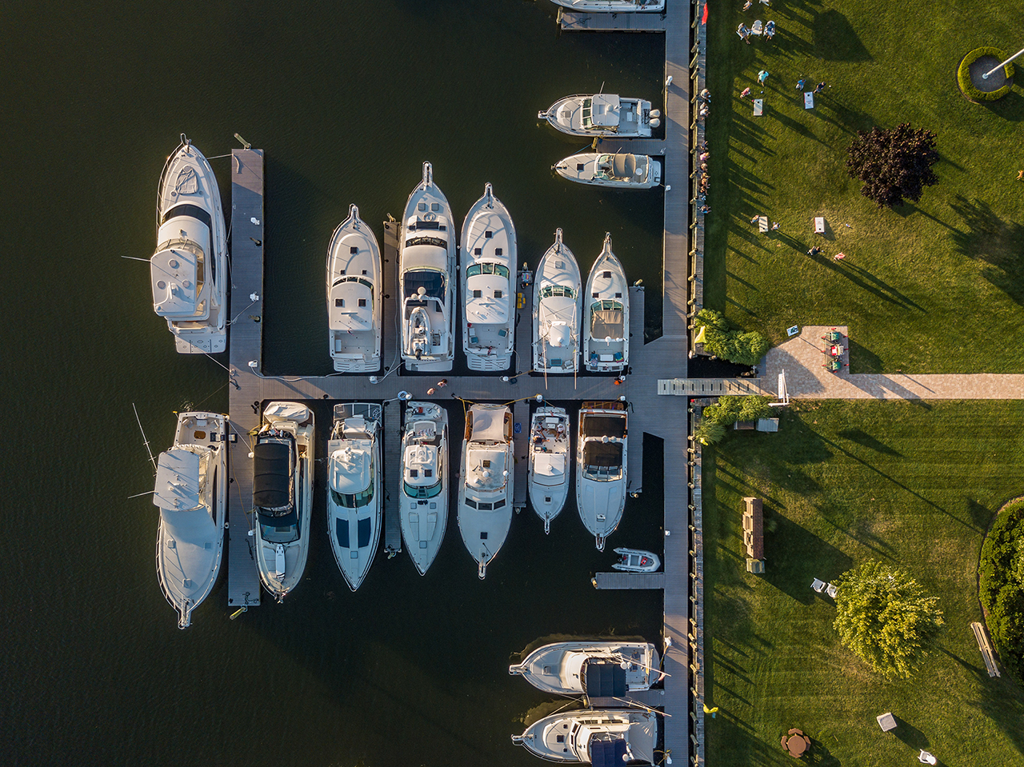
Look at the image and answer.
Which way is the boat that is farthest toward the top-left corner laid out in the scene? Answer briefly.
from top to bottom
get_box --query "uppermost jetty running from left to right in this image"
[561,13,665,32]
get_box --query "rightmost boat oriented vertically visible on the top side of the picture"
[583,232,630,373]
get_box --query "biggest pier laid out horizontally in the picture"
[262,376,629,399]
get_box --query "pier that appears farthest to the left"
[229,149,265,606]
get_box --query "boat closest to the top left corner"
[124,134,232,353]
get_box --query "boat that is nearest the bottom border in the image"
[511,706,656,767]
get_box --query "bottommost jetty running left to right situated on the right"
[590,688,665,707]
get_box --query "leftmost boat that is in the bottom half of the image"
[124,403,239,629]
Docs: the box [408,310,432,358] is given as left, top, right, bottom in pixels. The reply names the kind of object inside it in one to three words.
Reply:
boat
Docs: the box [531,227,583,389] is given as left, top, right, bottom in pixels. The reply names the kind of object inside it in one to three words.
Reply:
boat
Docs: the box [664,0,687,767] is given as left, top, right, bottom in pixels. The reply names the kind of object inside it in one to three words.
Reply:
pier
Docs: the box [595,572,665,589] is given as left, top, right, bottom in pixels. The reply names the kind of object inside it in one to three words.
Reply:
pier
